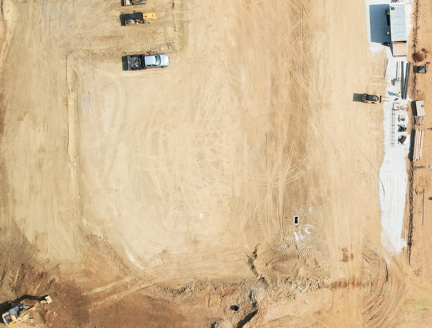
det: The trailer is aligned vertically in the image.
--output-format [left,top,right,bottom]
[388,1,406,61]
